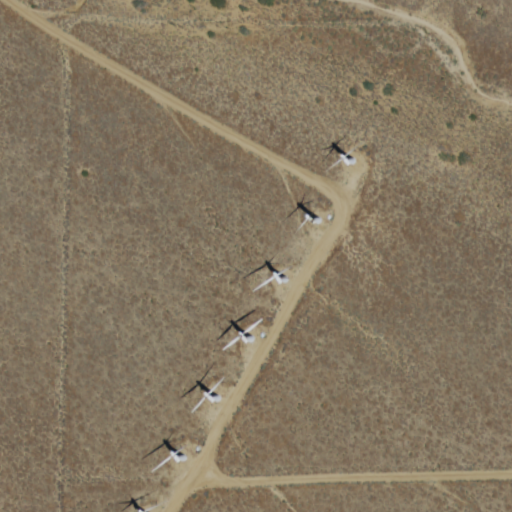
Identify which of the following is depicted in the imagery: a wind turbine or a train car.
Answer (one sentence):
It is a wind turbine that can be seen here.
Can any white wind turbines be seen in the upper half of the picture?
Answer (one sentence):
Yes, looking in the upper half of the picture, one can make out a white wind turbine.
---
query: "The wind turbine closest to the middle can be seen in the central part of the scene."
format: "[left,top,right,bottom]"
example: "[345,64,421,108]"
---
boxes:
[253,268,290,289]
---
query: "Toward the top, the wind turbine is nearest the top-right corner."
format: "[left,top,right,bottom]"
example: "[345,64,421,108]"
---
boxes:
[330,140,362,167]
